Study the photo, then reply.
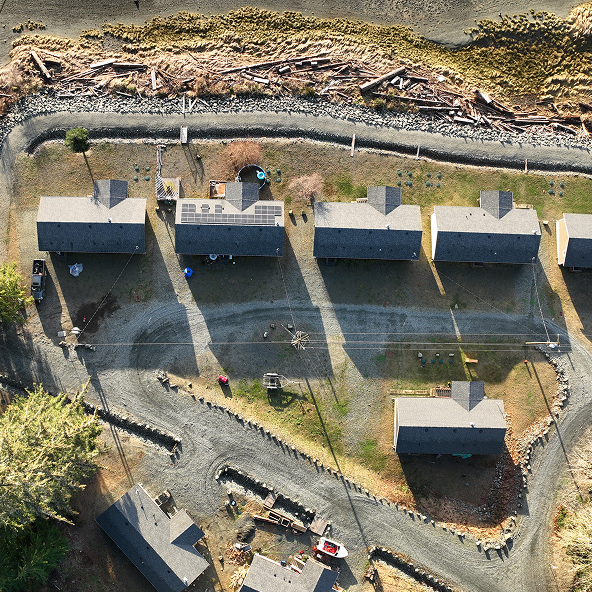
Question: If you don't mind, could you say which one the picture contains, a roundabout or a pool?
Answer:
pool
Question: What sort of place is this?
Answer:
residential area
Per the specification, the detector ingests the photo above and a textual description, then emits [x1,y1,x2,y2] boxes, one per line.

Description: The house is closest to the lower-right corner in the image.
[390,380,507,459]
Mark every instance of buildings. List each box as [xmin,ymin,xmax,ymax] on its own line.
[239,551,346,592]
[36,179,147,263]
[174,178,284,266]
[556,213,592,279]
[312,186,423,269]
[390,380,507,459]
[430,190,542,273]
[96,483,210,592]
